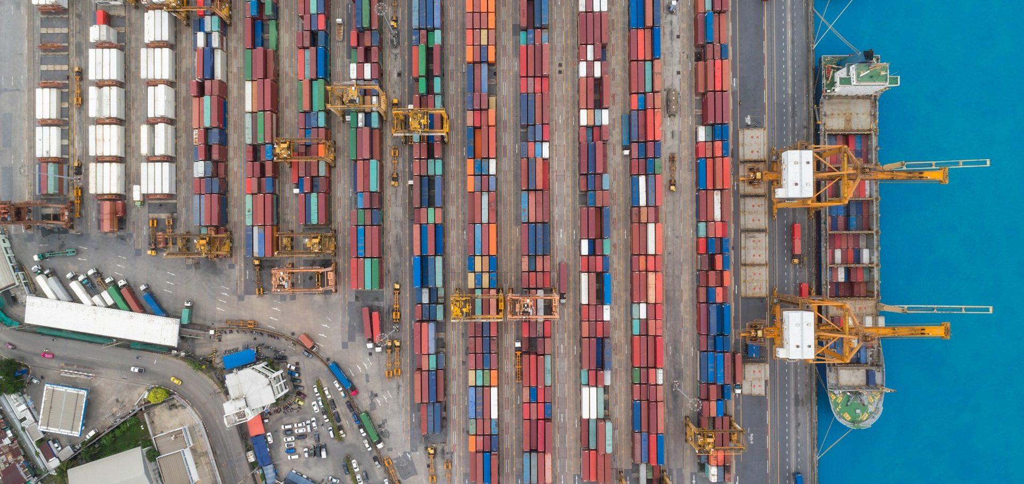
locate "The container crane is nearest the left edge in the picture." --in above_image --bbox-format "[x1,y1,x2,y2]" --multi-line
[0,199,73,231]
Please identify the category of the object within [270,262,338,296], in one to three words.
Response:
container crane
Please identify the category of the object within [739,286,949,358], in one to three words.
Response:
container crane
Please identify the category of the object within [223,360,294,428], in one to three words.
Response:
building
